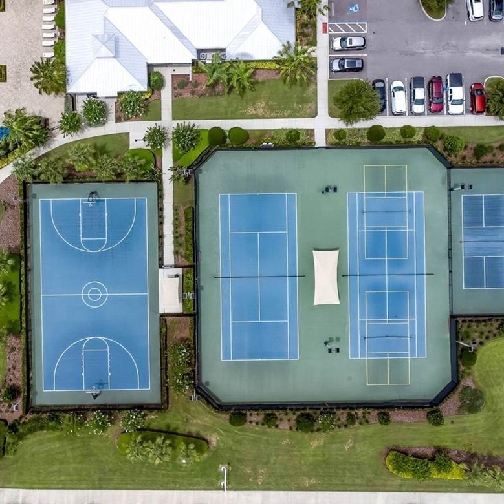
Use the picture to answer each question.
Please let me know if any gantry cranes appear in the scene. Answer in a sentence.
No, the photo shows no gantry crane.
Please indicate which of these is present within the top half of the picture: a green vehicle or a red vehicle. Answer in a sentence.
You can see a red vehicle within the top half of the picture.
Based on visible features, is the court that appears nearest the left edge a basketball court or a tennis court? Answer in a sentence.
What you see as the court that appears nearest the left edge is a basketball court.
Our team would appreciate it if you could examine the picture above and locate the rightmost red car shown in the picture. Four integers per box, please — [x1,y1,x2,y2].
[469,83,486,115]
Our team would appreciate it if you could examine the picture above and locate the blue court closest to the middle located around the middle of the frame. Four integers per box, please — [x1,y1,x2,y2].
[214,193,305,362]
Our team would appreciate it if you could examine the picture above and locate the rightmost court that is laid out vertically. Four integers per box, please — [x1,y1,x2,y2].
[460,195,504,289]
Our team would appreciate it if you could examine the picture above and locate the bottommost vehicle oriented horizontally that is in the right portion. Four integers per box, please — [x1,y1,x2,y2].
[329,57,364,73]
